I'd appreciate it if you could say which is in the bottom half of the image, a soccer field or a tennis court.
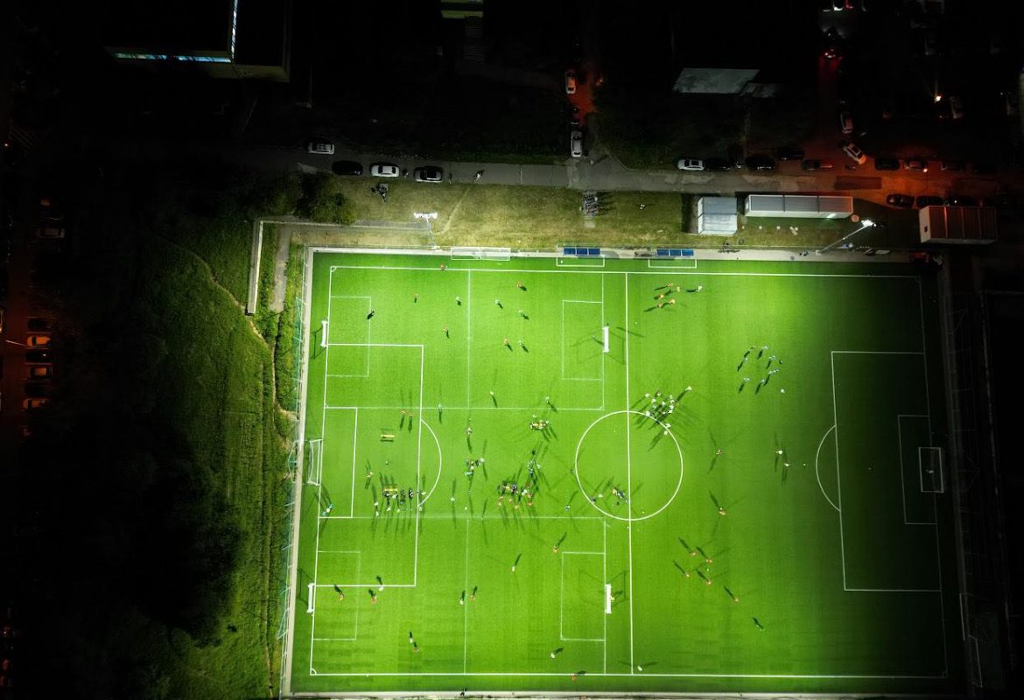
soccer field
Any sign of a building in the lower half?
No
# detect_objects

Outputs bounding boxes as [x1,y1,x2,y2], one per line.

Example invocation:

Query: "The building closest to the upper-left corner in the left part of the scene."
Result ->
[93,0,248,77]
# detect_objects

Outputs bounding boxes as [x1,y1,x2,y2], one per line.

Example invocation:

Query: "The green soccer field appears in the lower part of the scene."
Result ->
[290,252,967,695]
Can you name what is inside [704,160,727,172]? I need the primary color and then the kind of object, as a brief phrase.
black vehicle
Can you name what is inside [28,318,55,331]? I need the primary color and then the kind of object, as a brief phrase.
black vehicle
